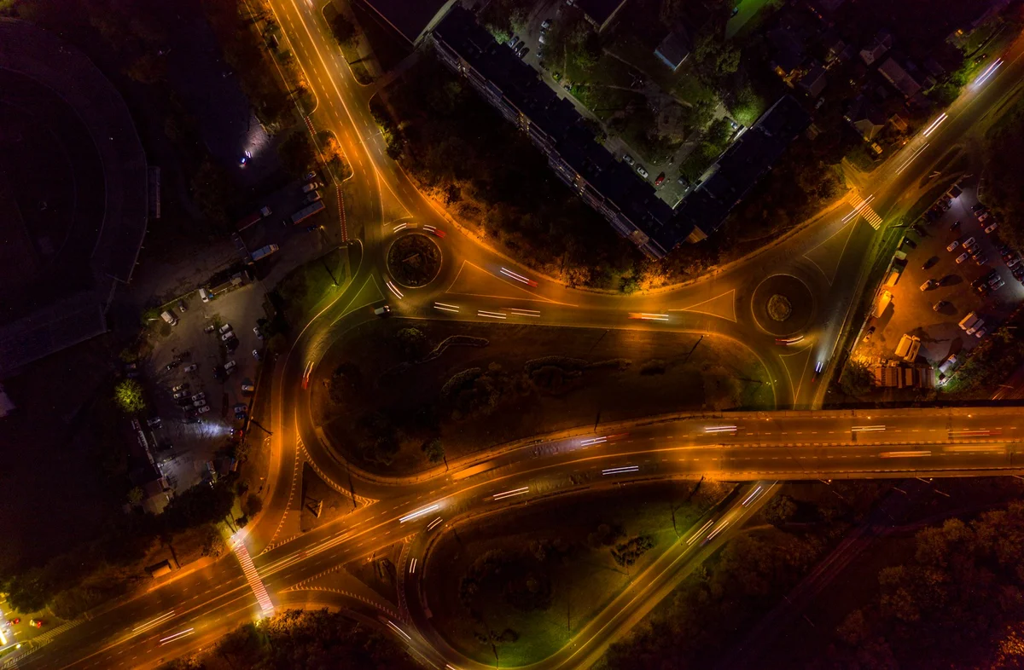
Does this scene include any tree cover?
Yes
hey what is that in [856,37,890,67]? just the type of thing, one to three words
house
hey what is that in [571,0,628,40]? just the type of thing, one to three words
building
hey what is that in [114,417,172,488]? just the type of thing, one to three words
shed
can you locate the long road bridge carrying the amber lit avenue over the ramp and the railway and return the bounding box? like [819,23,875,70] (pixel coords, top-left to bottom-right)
[739,409,1024,481]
